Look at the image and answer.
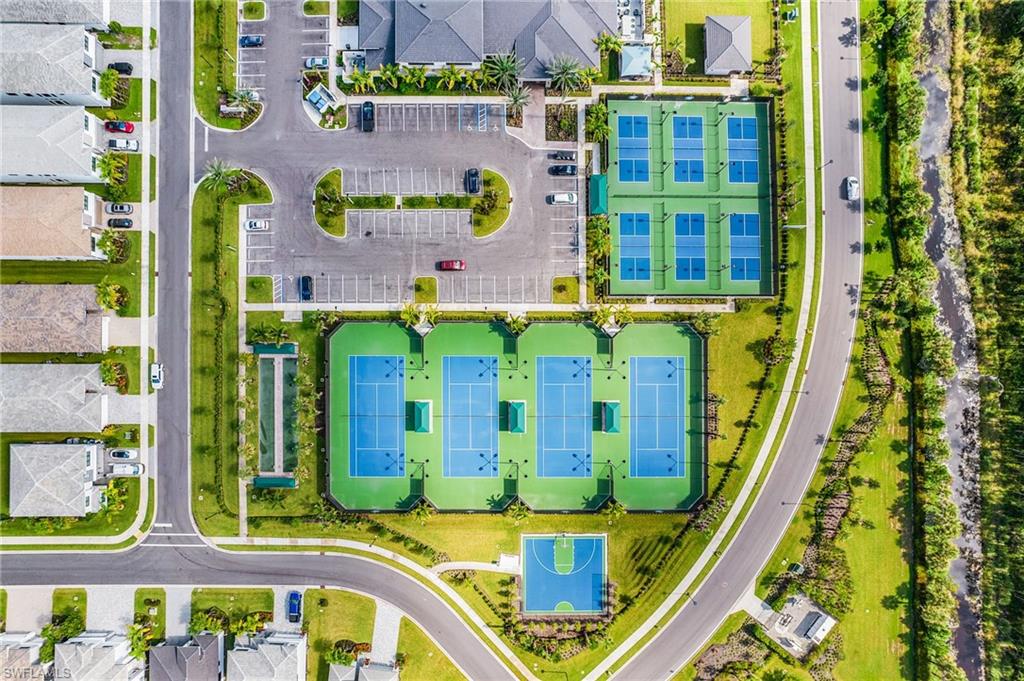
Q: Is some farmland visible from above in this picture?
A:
No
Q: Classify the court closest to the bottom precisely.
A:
basketball court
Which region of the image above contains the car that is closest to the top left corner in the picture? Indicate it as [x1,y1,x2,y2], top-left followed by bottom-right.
[108,61,135,75]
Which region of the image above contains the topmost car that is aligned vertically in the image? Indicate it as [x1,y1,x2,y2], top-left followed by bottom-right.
[361,103,374,131]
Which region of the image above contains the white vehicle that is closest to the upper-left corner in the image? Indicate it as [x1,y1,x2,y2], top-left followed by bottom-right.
[109,138,140,151]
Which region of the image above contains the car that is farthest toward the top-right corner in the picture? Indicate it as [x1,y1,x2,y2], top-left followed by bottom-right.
[845,175,861,202]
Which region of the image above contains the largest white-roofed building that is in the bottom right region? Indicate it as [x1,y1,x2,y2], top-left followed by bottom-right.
[806,610,837,646]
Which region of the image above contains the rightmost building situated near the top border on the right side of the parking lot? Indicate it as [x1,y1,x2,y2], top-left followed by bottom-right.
[704,16,751,78]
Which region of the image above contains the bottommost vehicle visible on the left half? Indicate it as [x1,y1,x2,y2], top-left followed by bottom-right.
[288,590,301,621]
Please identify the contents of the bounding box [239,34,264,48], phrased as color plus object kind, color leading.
blue car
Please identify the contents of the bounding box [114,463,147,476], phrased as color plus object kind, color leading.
white vehicle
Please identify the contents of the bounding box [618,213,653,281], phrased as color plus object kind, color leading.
blue sports court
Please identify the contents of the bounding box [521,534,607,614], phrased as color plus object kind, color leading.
blue basketball court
